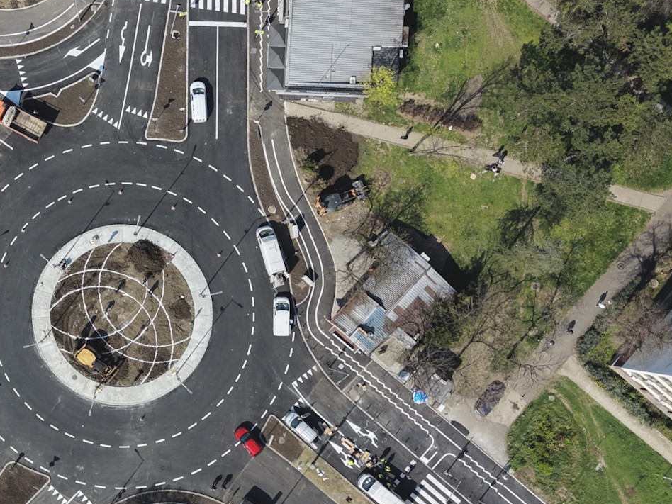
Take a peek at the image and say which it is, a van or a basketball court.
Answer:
van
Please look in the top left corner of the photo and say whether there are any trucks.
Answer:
Yes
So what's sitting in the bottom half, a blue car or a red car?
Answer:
red car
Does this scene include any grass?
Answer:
Yes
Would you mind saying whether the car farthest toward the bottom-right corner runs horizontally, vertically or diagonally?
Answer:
diagonally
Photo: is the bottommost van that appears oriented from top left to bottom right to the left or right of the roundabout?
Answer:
to the right of it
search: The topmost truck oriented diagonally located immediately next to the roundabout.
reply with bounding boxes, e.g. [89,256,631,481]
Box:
[0,95,47,143]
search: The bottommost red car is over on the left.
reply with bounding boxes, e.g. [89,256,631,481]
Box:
[233,424,265,460]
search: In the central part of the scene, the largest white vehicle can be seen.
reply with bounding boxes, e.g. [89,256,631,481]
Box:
[255,224,294,288]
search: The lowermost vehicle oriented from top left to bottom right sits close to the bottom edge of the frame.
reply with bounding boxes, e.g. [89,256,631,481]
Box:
[355,468,407,504]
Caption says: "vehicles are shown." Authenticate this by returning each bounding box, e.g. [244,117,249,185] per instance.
[305,181,366,224]
[255,224,294,288]
[233,424,265,460]
[0,95,47,143]
[283,407,327,453]
[271,297,292,336]
[66,337,122,383]
[238,494,260,504]
[355,468,407,504]
[188,82,209,124]
[473,376,508,417]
